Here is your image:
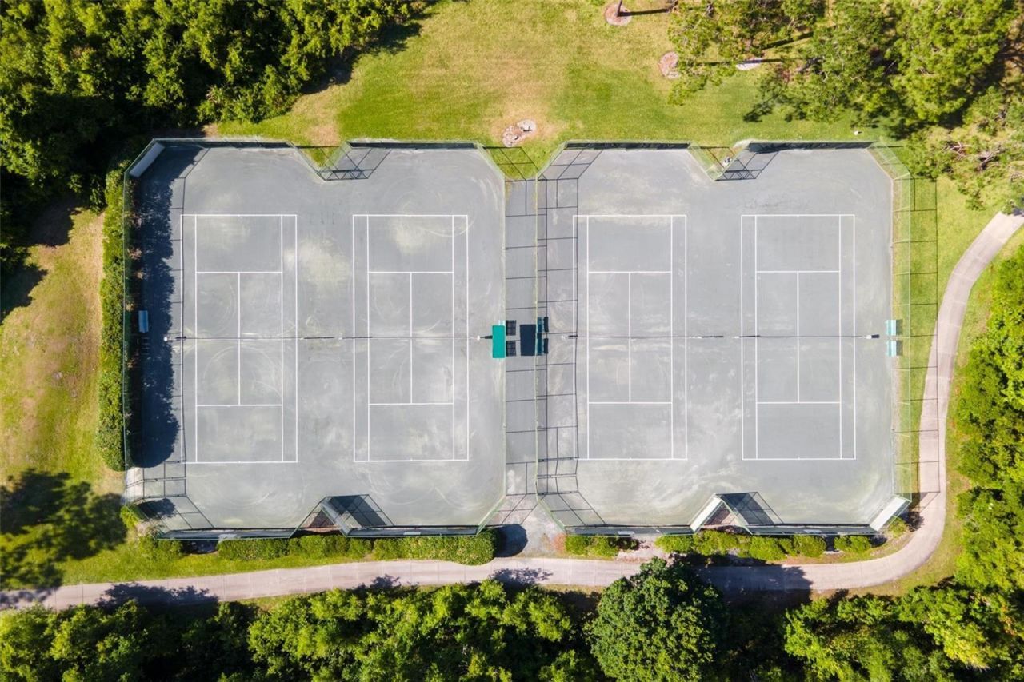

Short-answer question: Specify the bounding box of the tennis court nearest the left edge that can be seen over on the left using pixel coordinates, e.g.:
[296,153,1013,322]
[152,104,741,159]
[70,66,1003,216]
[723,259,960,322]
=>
[142,148,326,530]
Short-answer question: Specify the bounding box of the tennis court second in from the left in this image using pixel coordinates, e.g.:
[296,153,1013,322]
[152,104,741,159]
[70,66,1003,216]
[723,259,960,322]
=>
[325,150,505,527]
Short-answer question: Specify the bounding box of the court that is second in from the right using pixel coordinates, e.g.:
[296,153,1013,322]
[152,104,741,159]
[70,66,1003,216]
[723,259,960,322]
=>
[538,150,716,526]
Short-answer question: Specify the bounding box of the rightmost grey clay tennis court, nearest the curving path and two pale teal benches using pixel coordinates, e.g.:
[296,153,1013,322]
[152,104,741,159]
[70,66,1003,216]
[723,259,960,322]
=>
[715,150,894,525]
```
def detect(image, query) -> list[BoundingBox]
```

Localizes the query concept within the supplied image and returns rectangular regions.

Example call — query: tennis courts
[715,150,894,525]
[538,150,716,526]
[325,150,505,527]
[142,148,326,530]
